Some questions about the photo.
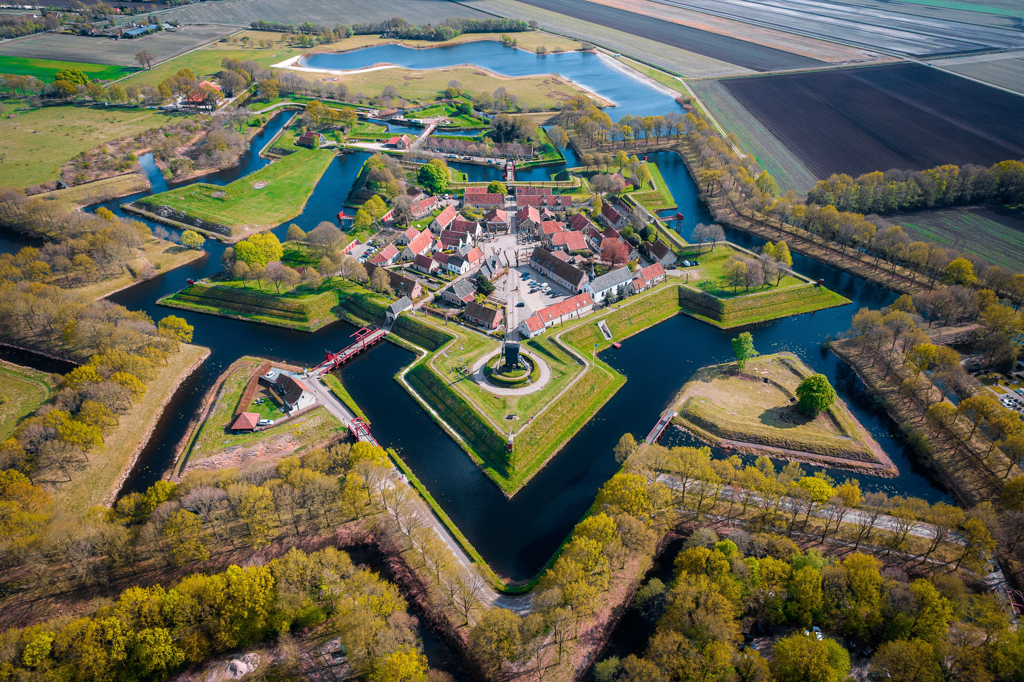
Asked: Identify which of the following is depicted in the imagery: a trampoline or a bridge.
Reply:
bridge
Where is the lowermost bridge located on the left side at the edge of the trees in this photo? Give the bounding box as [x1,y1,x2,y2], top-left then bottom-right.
[344,410,391,455]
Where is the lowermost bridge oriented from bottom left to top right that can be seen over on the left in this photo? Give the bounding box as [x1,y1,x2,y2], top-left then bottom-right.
[311,325,389,374]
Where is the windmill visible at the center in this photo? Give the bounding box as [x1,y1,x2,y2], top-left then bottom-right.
[498,319,542,376]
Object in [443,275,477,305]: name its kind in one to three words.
house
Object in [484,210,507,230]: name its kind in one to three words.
house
